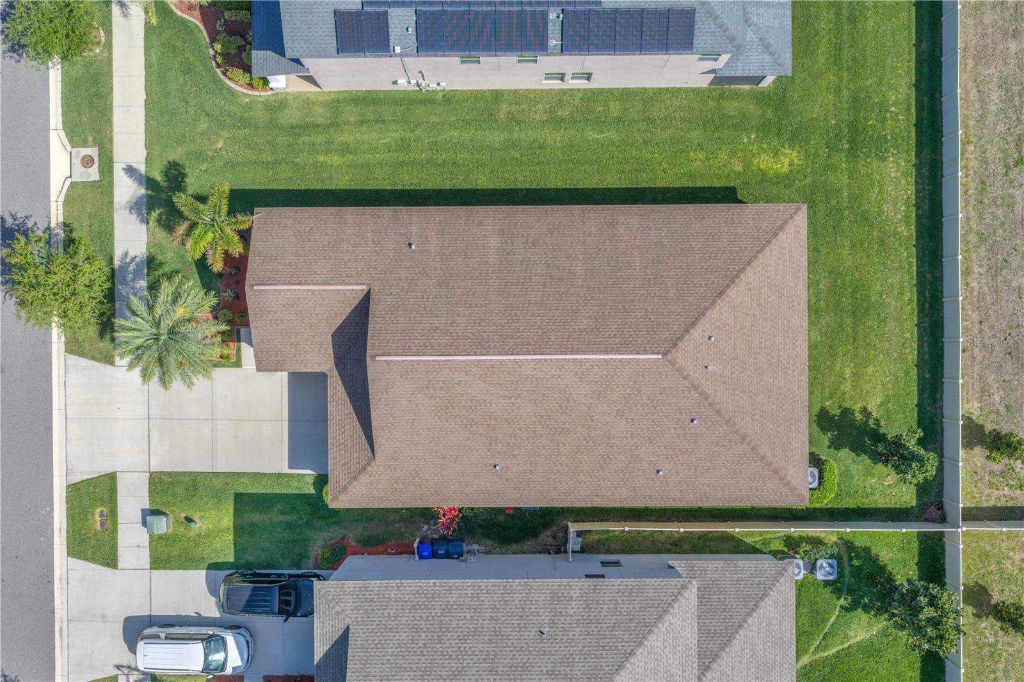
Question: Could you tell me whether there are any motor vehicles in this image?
Yes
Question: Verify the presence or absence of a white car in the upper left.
No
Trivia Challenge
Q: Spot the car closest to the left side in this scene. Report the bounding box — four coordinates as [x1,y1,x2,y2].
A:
[135,626,254,682]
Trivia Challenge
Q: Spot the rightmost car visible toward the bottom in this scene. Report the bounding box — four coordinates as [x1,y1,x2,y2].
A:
[219,573,325,627]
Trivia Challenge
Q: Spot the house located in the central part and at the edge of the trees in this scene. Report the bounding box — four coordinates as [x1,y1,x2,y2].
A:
[245,205,808,508]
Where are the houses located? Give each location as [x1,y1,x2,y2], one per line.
[252,0,792,94]
[245,205,808,508]
[313,552,795,682]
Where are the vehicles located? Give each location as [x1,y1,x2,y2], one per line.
[135,626,254,682]
[219,573,325,627]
